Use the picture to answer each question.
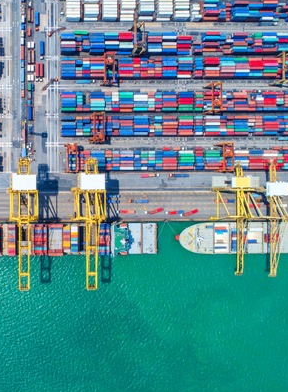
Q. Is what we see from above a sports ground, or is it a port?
port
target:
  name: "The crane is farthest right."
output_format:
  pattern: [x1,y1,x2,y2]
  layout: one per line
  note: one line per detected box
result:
[239,162,288,279]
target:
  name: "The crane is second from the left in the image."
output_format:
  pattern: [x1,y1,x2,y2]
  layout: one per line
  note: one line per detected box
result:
[73,157,105,291]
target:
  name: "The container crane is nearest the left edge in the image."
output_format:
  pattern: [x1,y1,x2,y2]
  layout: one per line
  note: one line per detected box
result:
[11,157,38,291]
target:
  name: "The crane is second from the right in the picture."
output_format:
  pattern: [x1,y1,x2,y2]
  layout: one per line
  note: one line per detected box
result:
[208,166,256,276]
